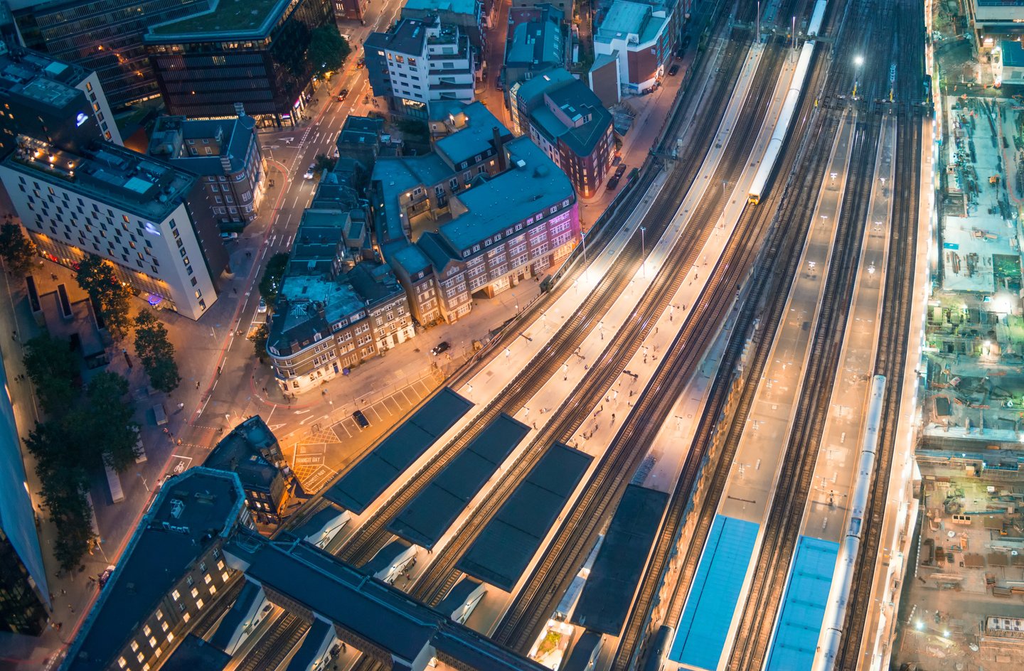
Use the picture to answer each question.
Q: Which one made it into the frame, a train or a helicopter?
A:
train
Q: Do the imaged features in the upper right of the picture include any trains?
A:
Yes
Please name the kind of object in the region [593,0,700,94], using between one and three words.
building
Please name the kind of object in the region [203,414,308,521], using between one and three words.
building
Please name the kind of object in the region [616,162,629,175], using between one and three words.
vehicle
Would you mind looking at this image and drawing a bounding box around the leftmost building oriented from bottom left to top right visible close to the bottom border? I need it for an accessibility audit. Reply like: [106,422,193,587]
[55,465,257,671]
